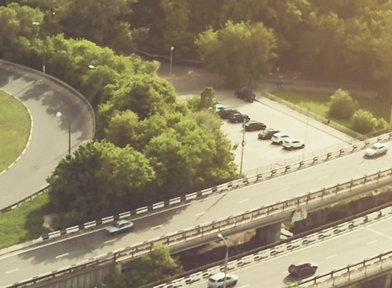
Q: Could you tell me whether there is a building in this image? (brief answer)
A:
No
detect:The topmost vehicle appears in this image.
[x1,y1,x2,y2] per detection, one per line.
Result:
[233,85,258,102]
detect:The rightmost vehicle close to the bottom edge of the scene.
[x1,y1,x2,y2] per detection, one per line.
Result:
[285,263,319,278]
